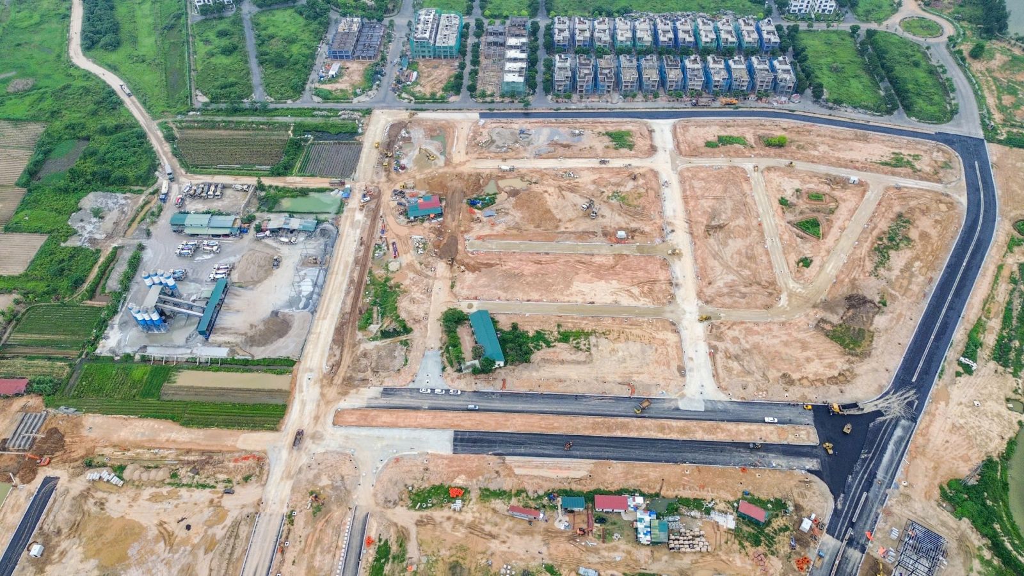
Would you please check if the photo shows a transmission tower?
Yes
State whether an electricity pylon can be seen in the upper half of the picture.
No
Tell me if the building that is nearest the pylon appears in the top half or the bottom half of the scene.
bottom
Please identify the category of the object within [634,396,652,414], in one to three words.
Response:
vehicle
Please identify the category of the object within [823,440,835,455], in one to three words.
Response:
vehicle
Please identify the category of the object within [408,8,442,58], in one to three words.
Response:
building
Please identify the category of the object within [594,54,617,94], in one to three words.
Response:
house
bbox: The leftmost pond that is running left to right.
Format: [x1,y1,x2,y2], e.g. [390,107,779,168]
[168,369,291,388]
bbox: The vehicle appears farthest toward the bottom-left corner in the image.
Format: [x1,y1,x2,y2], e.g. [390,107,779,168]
[29,450,51,466]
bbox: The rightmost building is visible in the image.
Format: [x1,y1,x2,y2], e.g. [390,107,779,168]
[886,517,948,576]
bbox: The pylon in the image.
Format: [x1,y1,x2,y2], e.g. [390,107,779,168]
[960,452,997,486]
